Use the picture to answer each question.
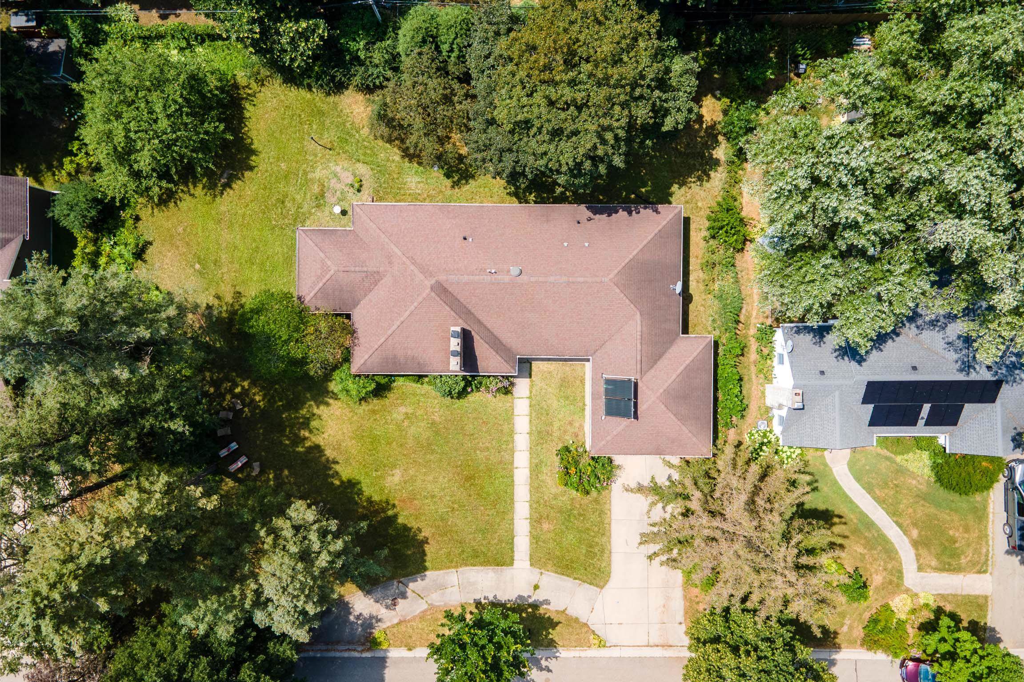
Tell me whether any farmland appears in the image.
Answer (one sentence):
No, there is no farmland in the image.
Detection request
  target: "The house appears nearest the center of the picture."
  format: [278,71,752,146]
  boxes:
[295,202,714,458]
